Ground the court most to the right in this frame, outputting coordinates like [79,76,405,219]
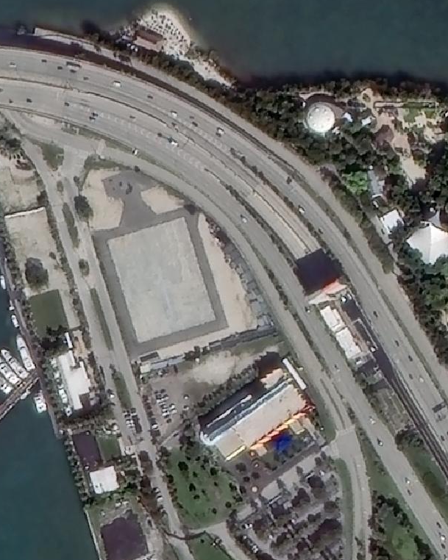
[98,436,122,462]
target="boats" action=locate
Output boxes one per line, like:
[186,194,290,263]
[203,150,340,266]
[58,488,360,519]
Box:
[18,335,34,371]
[3,350,28,381]
[35,391,45,413]
[0,376,13,396]
[0,358,22,386]
[11,315,19,328]
[1,276,7,290]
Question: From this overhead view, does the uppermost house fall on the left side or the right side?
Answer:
left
